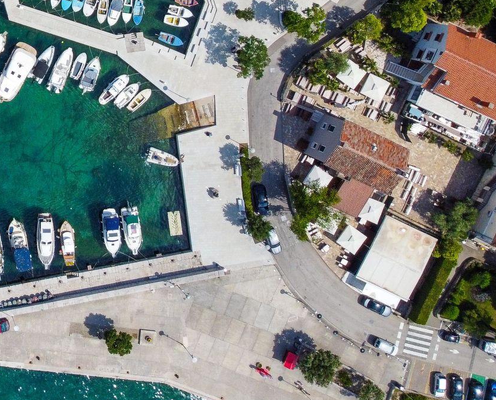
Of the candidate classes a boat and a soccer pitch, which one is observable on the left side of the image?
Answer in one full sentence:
Looking on the left side of the image, you will find a boat.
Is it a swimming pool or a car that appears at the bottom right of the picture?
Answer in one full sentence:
What appears at the bottom right of the picture is a car.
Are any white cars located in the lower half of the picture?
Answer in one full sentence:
Yes, a white car shows up in the lower half of the picture.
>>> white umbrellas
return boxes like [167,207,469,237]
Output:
[337,61,366,88]
[337,224,366,254]
[303,165,333,189]
[360,74,390,101]
[358,198,385,221]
